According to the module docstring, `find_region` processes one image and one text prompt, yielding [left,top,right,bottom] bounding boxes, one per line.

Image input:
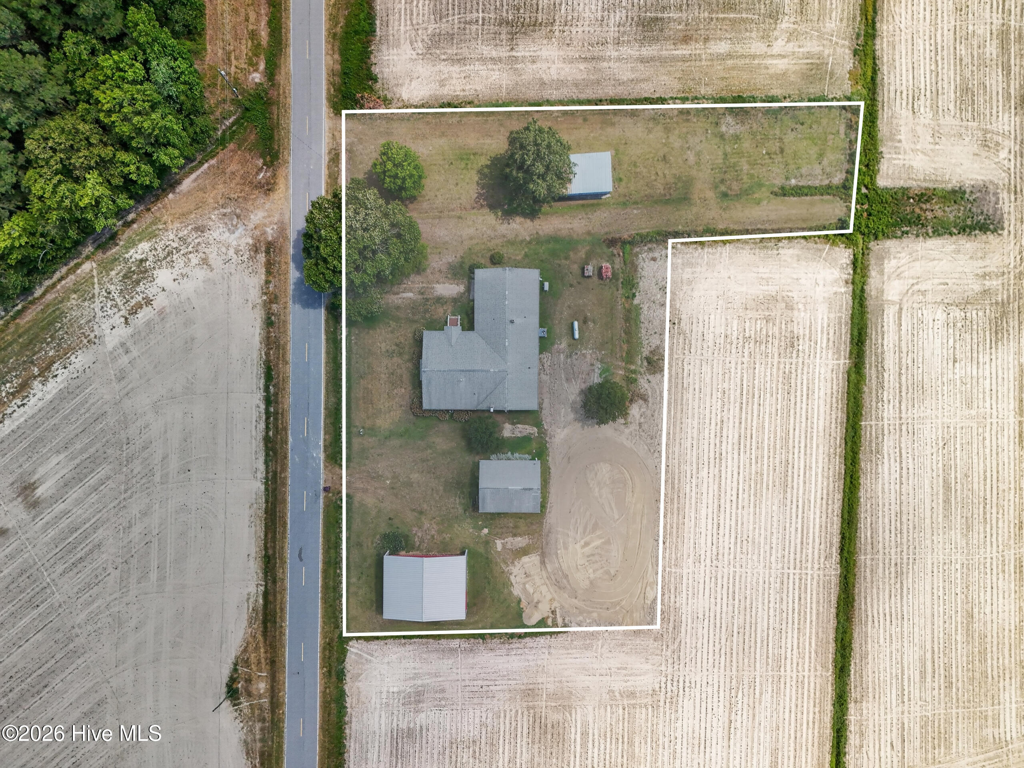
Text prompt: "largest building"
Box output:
[420,266,546,413]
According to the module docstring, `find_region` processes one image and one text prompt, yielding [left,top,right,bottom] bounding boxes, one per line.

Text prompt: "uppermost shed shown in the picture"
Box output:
[556,151,613,200]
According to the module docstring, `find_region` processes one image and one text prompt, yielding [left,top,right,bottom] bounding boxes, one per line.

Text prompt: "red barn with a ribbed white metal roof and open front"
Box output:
[383,549,468,622]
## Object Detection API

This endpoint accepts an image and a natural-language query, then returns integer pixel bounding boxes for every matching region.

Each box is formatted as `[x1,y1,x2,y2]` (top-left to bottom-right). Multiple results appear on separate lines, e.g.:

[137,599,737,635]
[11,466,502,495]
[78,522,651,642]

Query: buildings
[556,151,613,200]
[383,549,468,622]
[420,266,546,413]
[478,459,541,513]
